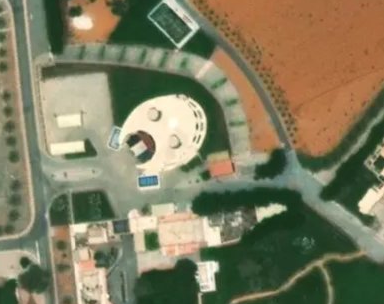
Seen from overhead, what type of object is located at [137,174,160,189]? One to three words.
swimming pool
